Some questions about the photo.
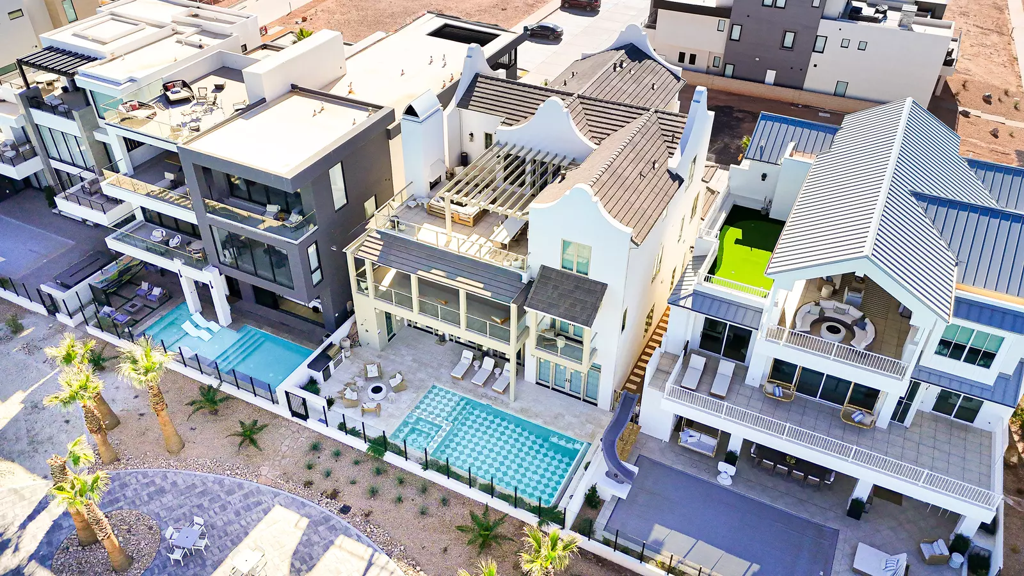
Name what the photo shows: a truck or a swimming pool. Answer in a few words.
swimming pool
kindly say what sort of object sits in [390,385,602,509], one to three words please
swimming pool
